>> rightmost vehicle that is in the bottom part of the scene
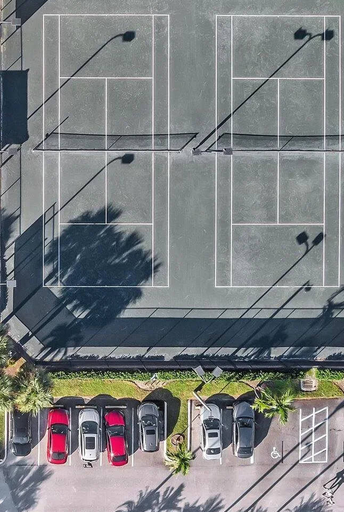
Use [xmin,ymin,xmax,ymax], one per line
[230,399,258,458]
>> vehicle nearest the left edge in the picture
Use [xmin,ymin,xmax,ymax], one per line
[9,398,35,456]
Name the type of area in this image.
sports ground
